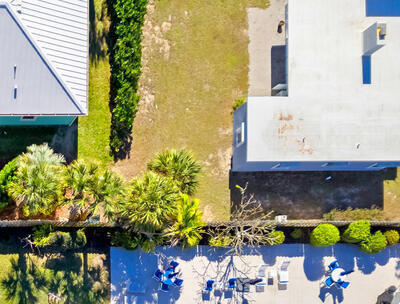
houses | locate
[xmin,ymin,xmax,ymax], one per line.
[0,0,90,125]
[233,0,400,170]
